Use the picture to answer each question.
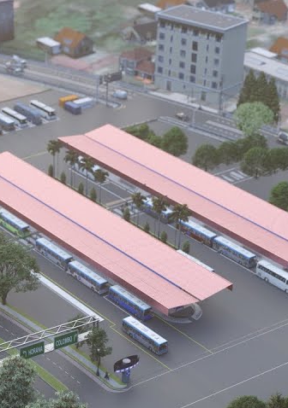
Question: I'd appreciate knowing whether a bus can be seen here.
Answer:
Yes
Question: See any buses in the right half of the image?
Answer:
Yes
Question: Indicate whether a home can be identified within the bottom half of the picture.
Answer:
No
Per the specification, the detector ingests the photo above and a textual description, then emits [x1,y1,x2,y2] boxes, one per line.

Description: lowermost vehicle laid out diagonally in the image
[123,316,167,356]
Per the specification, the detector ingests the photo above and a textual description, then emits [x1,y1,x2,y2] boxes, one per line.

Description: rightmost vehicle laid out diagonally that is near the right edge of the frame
[256,262,288,295]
